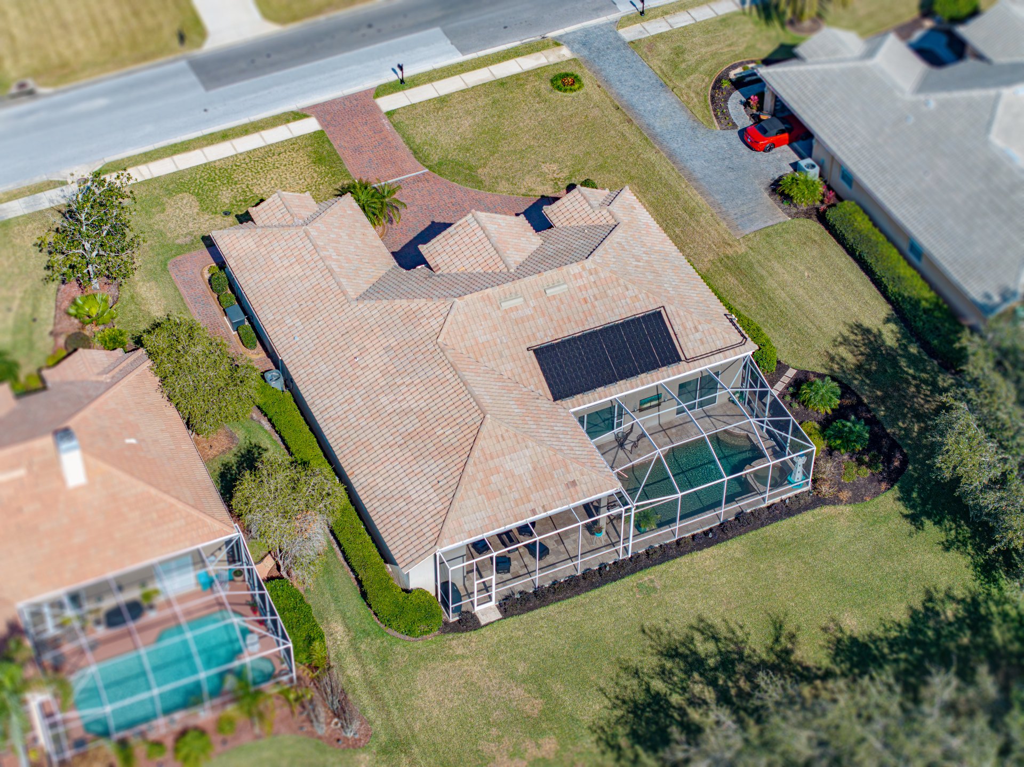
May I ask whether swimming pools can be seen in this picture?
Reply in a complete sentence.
Yes, I can see a swimming pool in this picture.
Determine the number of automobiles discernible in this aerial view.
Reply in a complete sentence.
The count comes to 1 automobile.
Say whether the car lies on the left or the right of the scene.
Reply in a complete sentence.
The car is on the right side of the image.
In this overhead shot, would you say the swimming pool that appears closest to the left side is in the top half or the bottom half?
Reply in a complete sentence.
You can find the swimming pool that appears closest to the left side in the bottom half.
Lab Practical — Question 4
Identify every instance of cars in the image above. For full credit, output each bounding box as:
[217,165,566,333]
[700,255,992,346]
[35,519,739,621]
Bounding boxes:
[741,110,810,151]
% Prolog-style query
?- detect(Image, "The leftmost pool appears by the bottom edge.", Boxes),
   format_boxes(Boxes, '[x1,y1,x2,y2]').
[74,610,246,733]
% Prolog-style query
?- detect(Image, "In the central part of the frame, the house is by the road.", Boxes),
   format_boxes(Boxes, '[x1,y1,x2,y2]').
[208,179,758,600]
